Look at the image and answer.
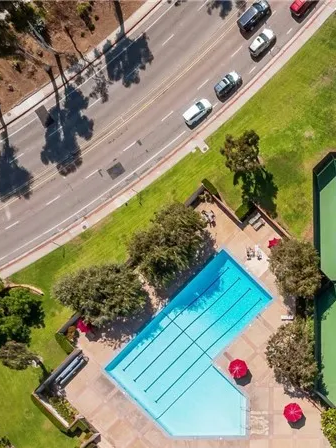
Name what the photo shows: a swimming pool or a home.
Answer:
swimming pool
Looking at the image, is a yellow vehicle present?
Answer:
No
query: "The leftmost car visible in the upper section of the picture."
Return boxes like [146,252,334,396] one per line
[181,99,212,127]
